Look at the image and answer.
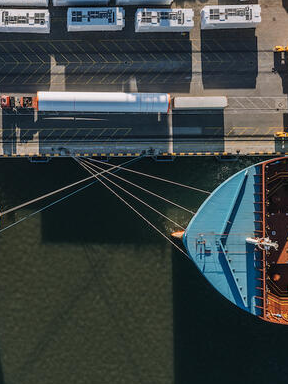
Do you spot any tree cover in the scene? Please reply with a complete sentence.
No, the scene doesn't show any tree cover.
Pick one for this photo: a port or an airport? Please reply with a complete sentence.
The picture captures a port.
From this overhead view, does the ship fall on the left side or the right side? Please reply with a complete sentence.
The ship is on the right side of the image.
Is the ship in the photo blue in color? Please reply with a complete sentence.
Yes, the ship is indeed blue.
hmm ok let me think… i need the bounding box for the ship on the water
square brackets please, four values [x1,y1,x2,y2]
[171,157,288,325]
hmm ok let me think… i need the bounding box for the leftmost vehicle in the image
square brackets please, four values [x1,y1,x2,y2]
[2,95,37,109]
